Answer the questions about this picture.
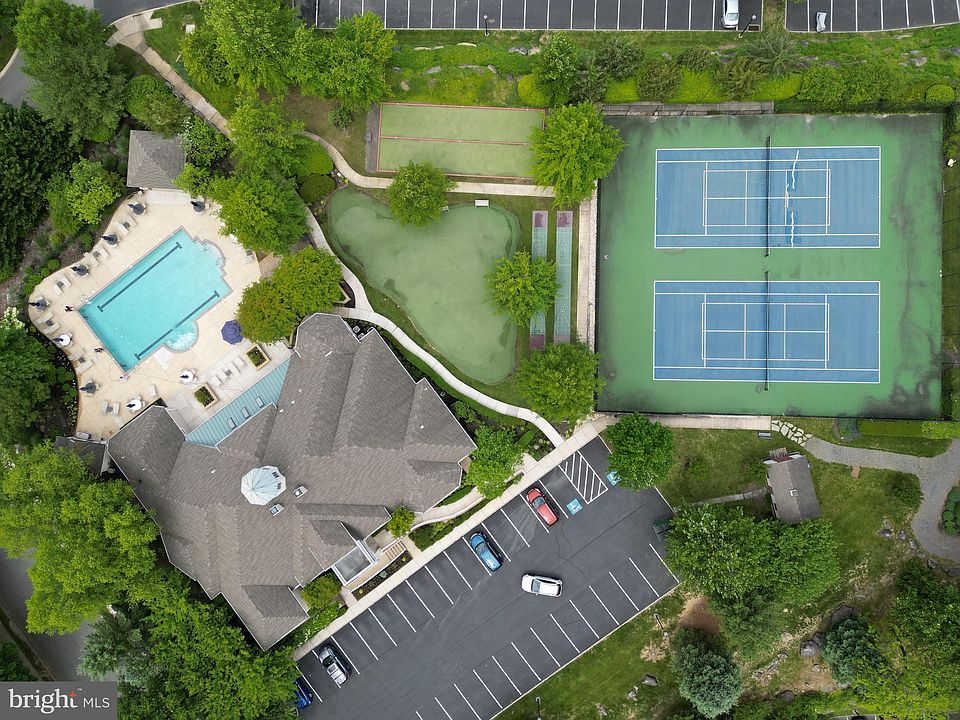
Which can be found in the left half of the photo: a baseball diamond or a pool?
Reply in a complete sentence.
Looking in the left half of the photo, you will find a pool.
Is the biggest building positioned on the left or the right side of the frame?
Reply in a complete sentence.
It is on the left.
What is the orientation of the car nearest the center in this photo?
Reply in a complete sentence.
I'd say the car nearest the center is aligned at an angle in the picture.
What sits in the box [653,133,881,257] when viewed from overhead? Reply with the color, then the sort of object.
blue tennis court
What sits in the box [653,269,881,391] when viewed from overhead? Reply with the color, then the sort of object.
blue tennis court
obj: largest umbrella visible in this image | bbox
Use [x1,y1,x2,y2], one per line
[221,320,245,343]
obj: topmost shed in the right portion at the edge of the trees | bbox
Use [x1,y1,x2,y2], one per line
[764,448,821,524]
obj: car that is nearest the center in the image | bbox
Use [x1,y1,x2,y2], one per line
[525,487,560,525]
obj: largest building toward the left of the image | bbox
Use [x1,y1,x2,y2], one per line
[104,311,475,652]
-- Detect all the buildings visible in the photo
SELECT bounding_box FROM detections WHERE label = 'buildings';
[128,130,196,194]
[764,448,821,524]
[104,311,475,652]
